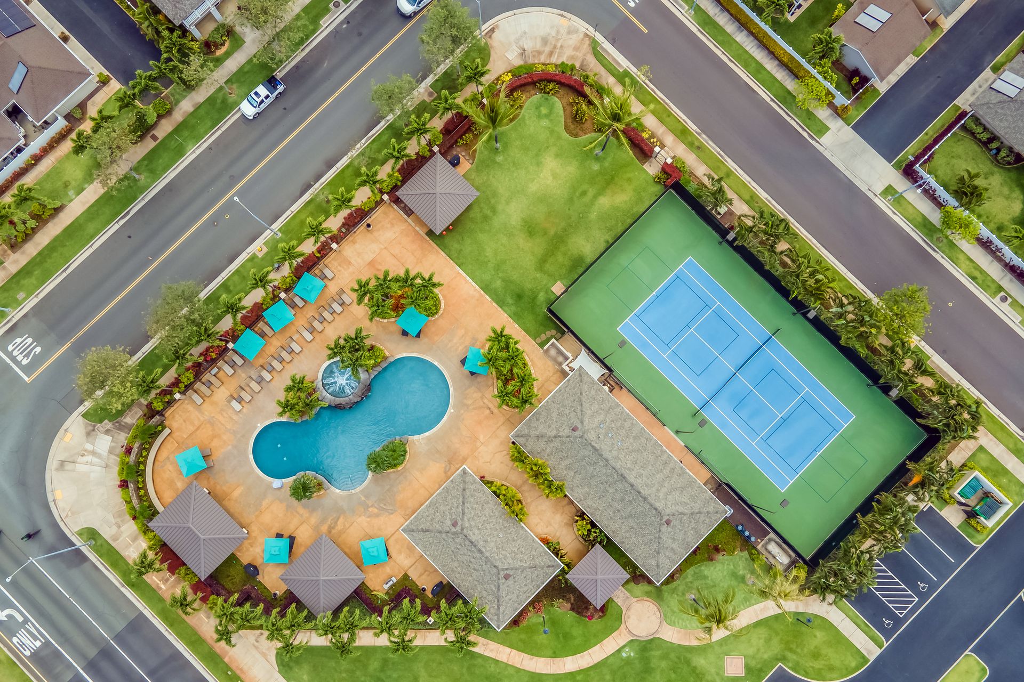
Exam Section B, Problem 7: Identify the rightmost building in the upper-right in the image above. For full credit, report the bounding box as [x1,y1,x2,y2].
[961,49,1024,181]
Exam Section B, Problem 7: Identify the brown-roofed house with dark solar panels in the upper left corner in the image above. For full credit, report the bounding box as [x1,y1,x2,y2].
[0,0,105,170]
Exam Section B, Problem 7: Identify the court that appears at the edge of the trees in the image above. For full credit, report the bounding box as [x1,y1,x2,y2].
[551,189,927,557]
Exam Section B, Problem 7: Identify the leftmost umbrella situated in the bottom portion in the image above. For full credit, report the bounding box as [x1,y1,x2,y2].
[177,445,209,478]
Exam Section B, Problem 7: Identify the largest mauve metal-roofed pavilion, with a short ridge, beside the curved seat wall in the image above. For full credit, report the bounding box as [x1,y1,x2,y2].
[148,480,252,581]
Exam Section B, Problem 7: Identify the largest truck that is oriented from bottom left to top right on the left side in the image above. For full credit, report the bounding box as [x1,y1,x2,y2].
[241,75,287,120]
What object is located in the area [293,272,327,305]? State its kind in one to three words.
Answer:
umbrella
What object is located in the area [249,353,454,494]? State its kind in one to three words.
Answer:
swimming pool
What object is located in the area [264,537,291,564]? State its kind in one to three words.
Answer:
umbrella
